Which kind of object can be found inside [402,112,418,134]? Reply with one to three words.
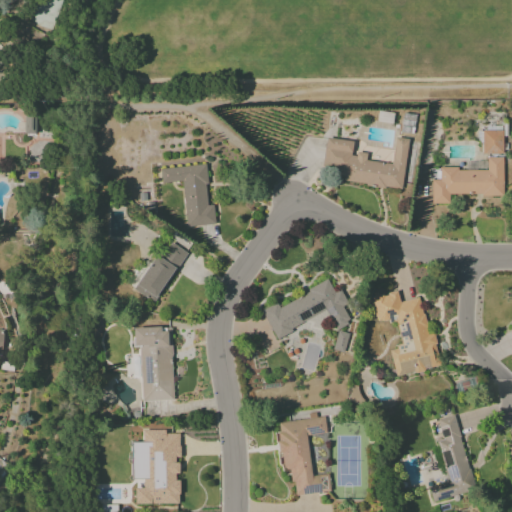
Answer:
greenhouse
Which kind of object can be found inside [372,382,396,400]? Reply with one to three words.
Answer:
swimming pool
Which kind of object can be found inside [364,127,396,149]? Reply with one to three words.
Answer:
swimming pool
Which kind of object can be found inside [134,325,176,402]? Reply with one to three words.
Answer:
house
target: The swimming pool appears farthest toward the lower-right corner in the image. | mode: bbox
[402,457,424,488]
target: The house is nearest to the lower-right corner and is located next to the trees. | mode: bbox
[430,414,476,505]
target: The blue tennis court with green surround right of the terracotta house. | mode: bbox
[332,424,367,499]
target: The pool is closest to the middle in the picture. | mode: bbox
[302,342,322,372]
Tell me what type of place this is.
residential area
